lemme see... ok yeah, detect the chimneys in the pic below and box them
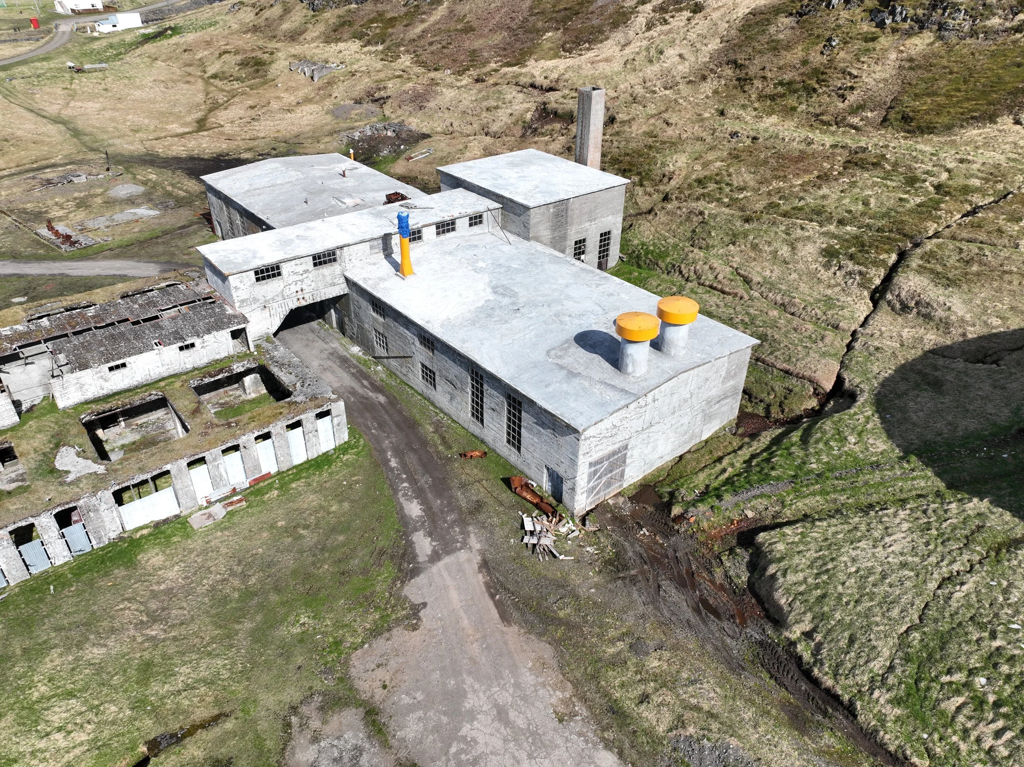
[574,86,606,172]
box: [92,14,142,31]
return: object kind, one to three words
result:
house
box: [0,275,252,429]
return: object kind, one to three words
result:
shed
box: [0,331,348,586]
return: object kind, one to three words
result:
building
